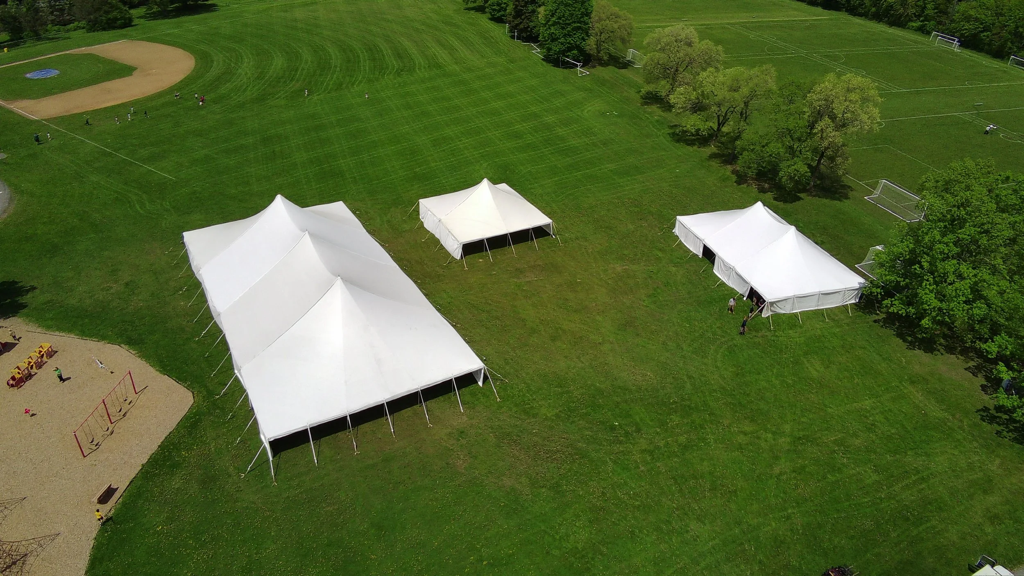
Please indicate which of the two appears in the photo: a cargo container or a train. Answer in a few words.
train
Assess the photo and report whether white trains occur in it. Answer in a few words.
No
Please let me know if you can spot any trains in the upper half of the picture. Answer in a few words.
No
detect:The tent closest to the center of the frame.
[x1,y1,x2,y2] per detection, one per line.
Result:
[403,177,564,269]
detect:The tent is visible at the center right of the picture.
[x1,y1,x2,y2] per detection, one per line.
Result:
[661,201,880,331]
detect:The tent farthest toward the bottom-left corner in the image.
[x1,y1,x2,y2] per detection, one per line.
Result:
[165,194,504,486]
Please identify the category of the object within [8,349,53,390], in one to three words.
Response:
train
